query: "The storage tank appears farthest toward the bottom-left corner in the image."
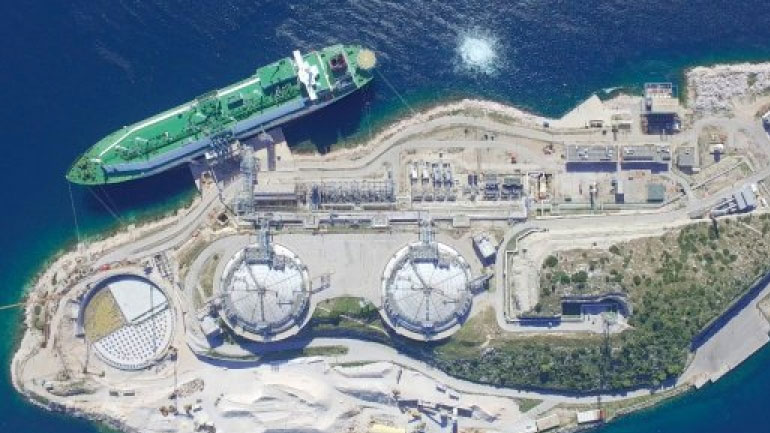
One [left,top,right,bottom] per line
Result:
[77,272,176,373]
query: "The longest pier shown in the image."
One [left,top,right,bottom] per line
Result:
[187,127,294,200]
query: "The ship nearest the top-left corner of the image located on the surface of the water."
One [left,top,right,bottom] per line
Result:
[66,41,375,183]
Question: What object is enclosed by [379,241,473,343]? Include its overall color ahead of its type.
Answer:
white storage tank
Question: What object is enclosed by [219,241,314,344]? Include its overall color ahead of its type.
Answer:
white storage tank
